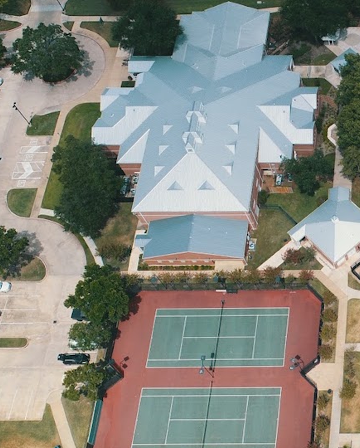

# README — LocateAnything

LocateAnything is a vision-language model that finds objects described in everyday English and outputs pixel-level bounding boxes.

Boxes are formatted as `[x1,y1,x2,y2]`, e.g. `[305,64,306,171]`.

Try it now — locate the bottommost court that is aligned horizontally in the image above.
[90,377,315,448]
